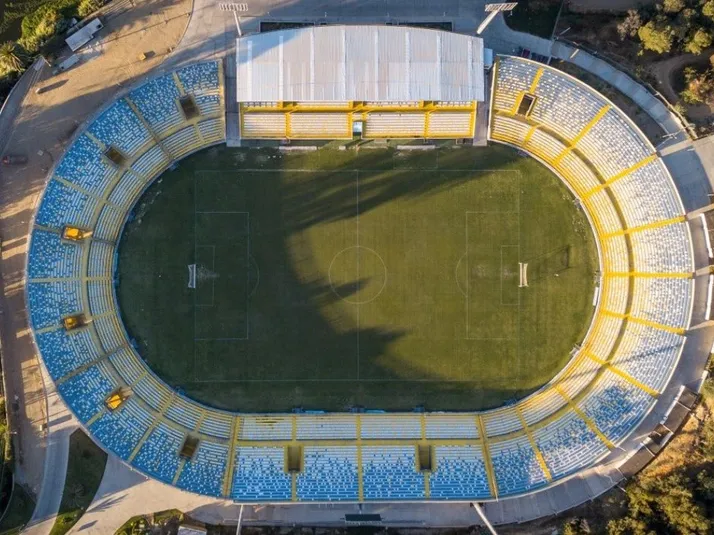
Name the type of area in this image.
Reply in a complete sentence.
The area seen from above is a sports ground.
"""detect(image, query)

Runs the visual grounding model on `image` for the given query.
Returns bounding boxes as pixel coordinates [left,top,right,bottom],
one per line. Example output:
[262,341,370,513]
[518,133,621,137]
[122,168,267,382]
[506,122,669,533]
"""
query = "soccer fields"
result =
[116,130,600,413]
